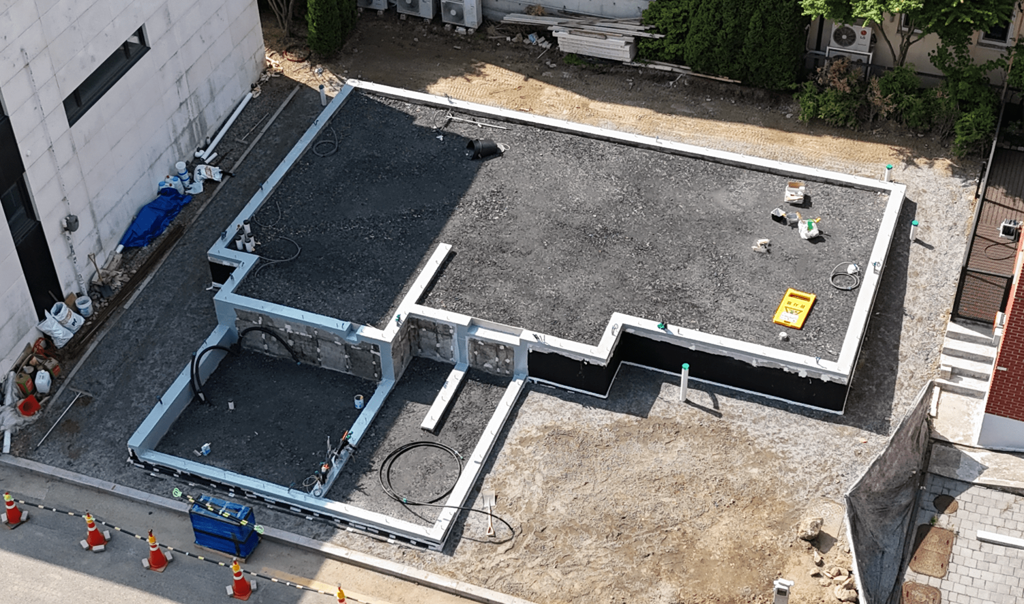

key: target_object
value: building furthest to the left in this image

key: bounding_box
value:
[0,0,267,373]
